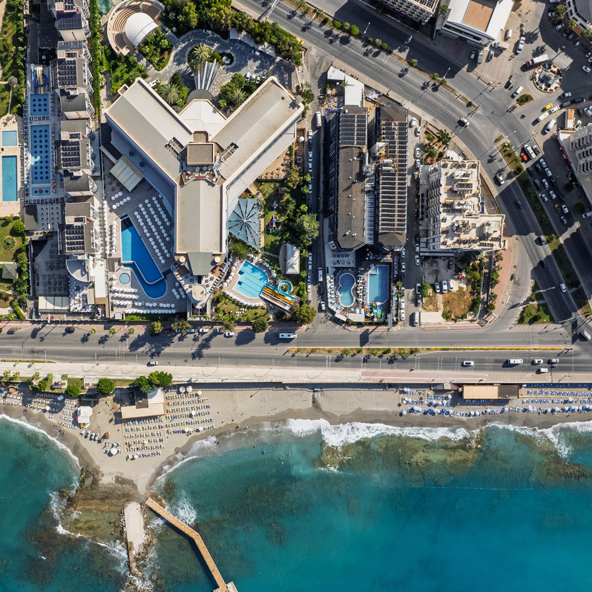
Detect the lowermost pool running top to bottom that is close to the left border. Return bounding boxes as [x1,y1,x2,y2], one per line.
[1,155,19,202]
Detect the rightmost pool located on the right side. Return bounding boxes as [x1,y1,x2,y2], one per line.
[368,264,390,304]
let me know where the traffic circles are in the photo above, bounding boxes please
[534,63,562,92]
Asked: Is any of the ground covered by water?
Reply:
Yes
